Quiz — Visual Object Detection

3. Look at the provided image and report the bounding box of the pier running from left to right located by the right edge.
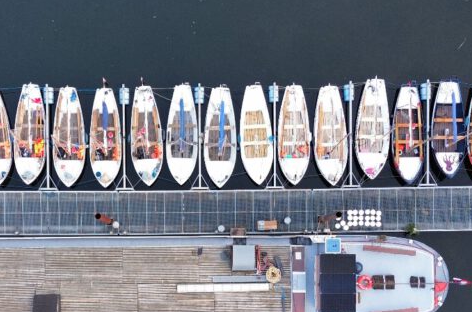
[312,187,472,231]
